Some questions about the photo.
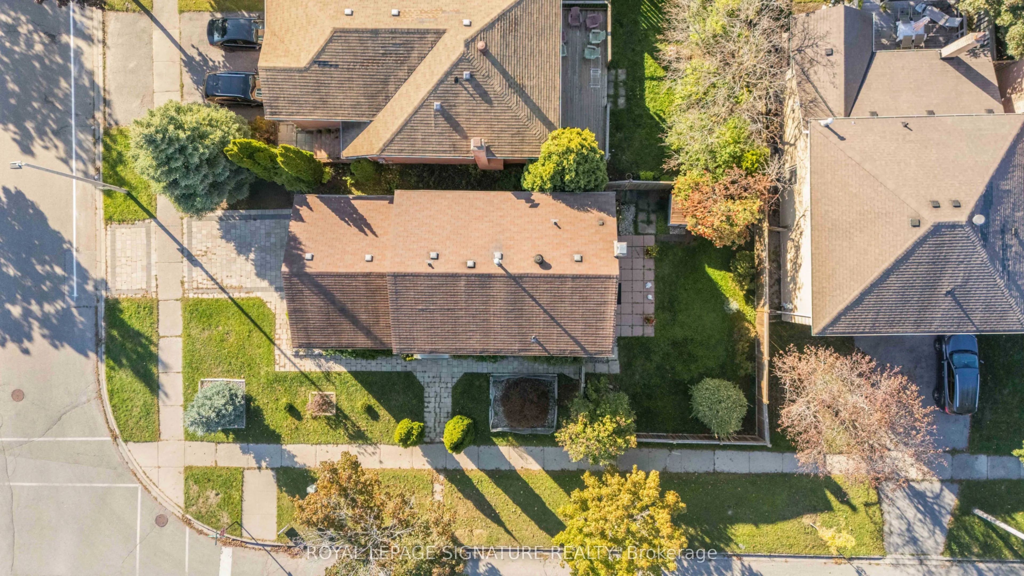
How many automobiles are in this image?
three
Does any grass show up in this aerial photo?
Yes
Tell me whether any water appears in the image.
No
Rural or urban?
urban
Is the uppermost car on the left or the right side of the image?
left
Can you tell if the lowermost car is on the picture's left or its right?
right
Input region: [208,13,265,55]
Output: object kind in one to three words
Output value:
car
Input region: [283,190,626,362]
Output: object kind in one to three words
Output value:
house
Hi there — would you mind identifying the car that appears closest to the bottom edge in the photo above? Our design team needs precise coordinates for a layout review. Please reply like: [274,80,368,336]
[931,333,982,415]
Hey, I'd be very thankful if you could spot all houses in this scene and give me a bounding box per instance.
[258,0,562,171]
[781,5,1024,336]
[283,190,626,362]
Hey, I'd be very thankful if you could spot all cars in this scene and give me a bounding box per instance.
[208,13,265,55]
[204,68,264,110]
[931,333,982,415]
